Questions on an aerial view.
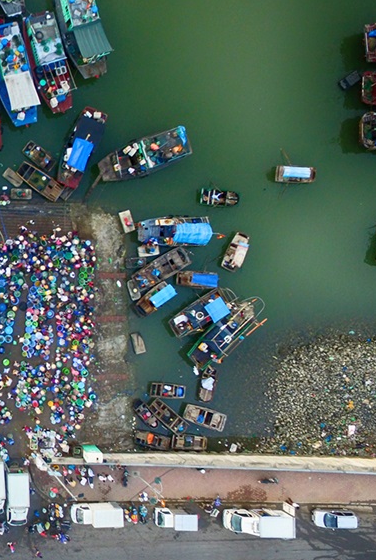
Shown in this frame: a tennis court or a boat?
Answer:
boat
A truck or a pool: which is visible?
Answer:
truck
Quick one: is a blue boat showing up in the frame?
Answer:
Yes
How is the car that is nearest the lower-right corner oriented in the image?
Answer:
horizontally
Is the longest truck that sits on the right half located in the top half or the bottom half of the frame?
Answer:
bottom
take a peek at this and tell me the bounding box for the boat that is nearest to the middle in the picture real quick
[173,271,219,288]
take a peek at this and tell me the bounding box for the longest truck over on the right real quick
[222,507,305,540]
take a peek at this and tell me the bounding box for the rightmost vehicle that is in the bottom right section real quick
[313,510,363,534]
